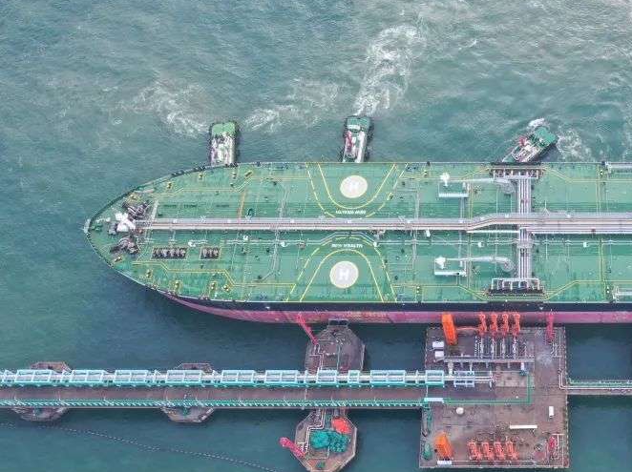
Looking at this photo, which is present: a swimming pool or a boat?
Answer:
boat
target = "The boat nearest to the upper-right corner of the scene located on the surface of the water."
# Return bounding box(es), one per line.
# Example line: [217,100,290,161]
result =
[497,125,557,162]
